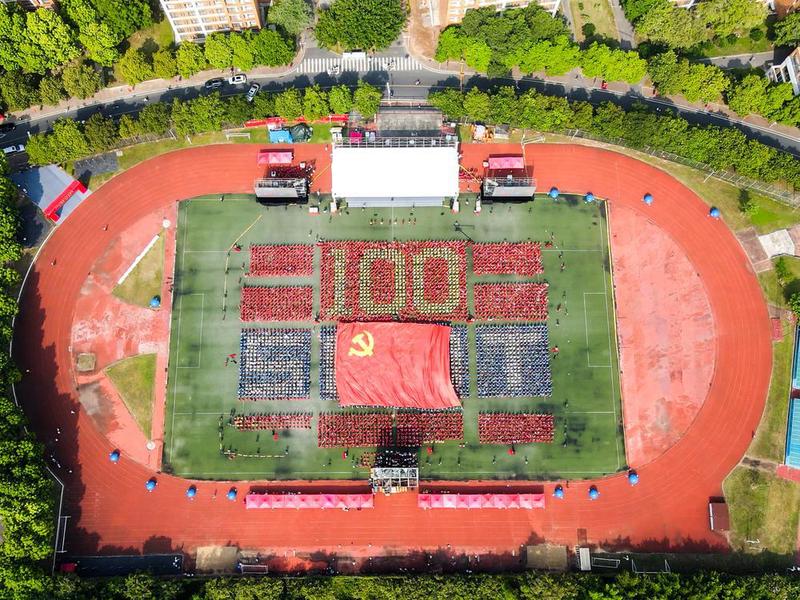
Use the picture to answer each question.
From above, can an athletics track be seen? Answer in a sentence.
Yes, an athletics track can be made out from above.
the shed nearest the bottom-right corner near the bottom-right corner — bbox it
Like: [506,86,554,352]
[706,501,730,532]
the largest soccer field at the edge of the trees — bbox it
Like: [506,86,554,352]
[162,193,629,481]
